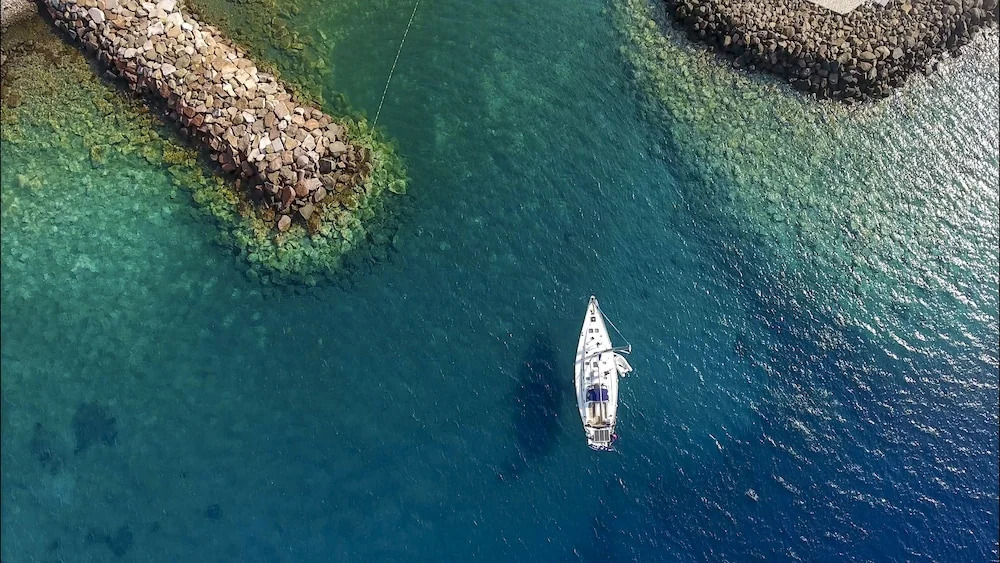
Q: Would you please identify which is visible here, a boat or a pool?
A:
boat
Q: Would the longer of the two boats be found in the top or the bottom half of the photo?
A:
bottom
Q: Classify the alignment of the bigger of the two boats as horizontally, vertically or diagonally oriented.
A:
vertically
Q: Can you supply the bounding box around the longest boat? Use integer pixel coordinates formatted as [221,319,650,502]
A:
[572,294,631,452]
